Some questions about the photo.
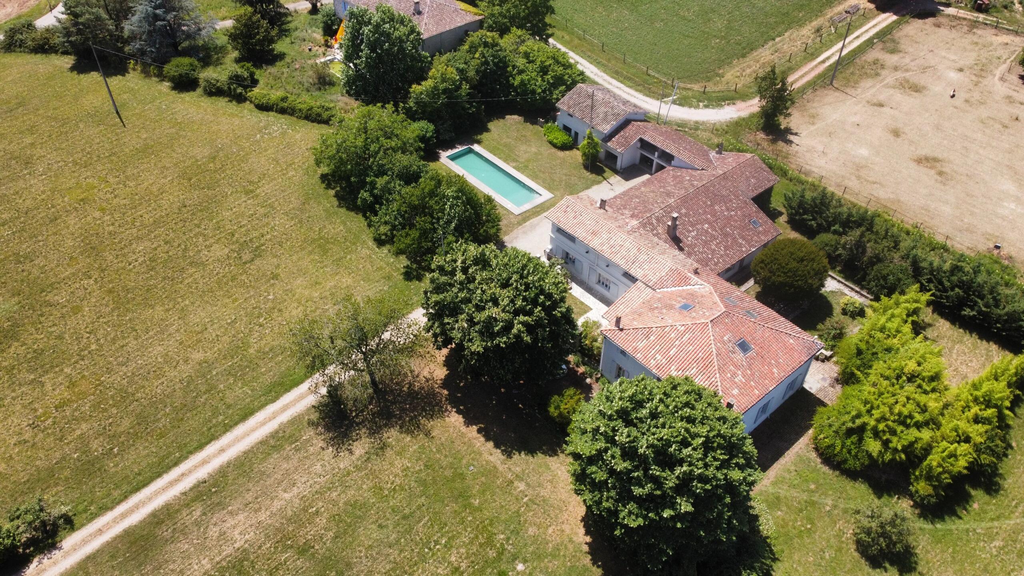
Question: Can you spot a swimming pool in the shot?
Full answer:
Yes, I can see a swimming pool in this picture.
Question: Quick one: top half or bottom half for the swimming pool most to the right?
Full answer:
It is in the top half that the swimming pool most to the right appears.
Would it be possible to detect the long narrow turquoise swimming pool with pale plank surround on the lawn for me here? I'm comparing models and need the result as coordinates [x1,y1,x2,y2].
[434,140,555,215]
